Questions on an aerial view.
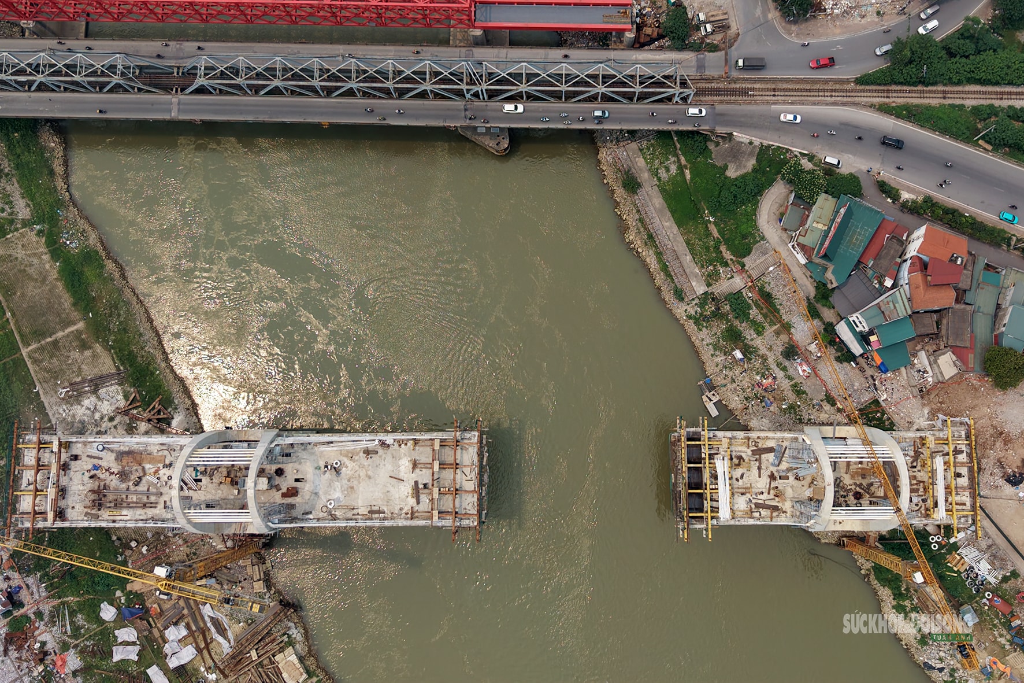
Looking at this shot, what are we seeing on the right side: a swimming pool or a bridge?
bridge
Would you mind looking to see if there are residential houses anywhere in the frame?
Yes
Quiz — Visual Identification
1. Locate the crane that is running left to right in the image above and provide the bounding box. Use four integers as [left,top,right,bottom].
[0,533,267,624]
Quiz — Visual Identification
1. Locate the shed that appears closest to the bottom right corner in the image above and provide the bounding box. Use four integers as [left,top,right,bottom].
[952,603,979,626]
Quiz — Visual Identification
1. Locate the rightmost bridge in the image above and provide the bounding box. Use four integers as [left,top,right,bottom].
[668,417,984,541]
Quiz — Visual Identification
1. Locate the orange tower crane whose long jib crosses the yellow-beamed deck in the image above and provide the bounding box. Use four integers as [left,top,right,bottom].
[772,250,981,683]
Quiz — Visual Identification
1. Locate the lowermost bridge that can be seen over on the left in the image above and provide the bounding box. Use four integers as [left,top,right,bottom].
[3,419,490,543]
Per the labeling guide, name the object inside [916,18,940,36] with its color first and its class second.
white car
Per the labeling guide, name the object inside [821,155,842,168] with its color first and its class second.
white vehicle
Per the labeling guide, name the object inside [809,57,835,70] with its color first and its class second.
red vehicle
